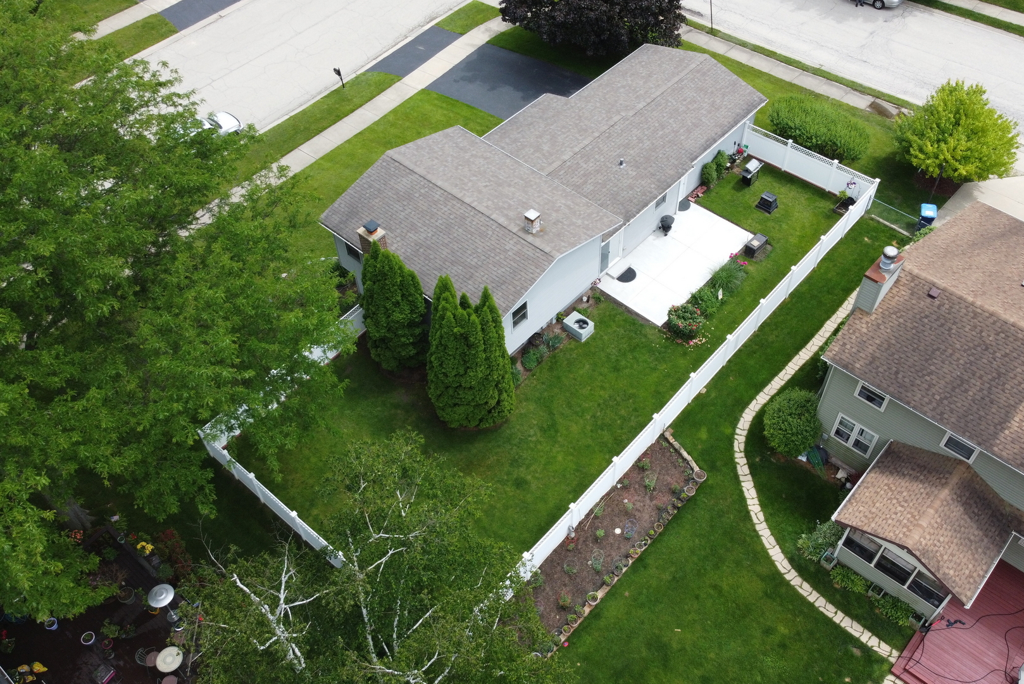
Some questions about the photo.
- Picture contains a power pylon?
No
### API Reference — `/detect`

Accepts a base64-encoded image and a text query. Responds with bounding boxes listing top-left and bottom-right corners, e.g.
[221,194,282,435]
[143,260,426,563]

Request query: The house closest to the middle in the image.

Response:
[316,45,769,361]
